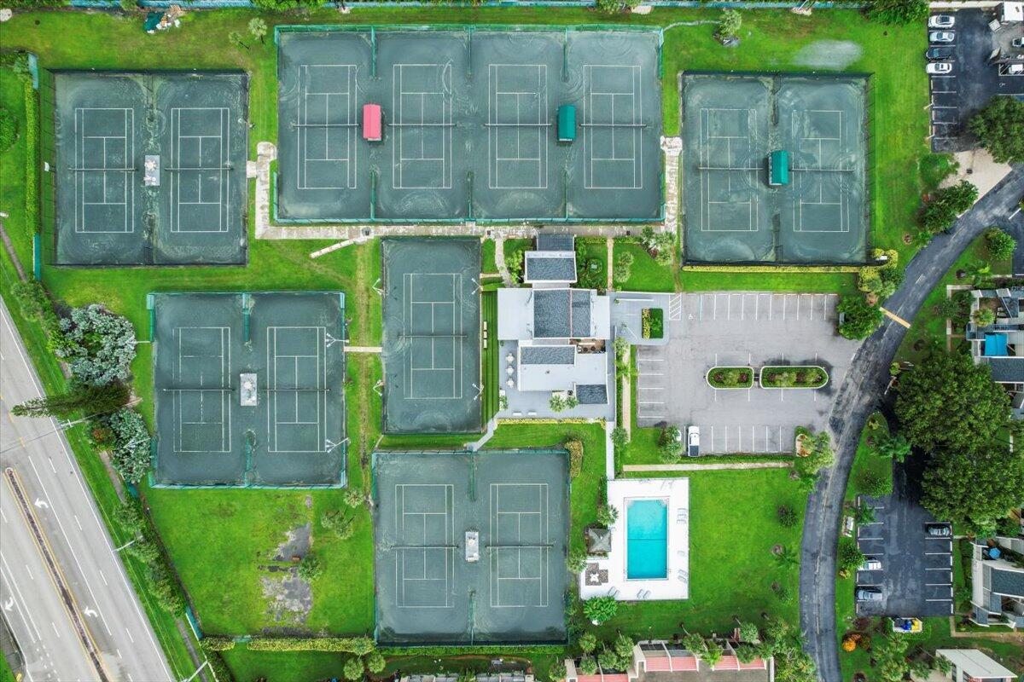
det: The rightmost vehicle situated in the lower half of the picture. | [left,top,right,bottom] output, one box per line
[925,524,951,536]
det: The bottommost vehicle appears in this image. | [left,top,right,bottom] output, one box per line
[856,588,883,601]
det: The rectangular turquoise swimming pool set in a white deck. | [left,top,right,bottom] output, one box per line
[579,478,689,602]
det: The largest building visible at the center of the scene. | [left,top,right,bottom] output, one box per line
[497,235,610,405]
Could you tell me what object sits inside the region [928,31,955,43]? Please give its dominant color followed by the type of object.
white vehicle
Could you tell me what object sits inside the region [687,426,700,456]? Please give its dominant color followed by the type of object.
white vehicle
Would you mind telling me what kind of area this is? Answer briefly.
sports ground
